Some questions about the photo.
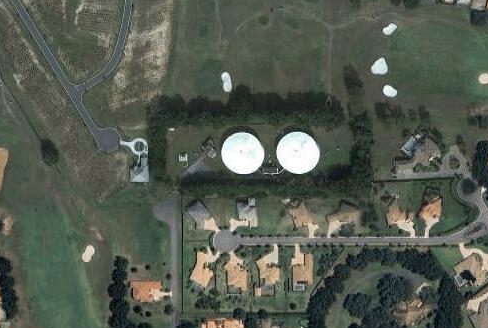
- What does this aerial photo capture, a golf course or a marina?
golf course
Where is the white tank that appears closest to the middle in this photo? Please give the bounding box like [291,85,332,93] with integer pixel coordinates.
[221,132,264,175]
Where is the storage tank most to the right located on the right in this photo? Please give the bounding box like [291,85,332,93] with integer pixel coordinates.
[276,132,319,175]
